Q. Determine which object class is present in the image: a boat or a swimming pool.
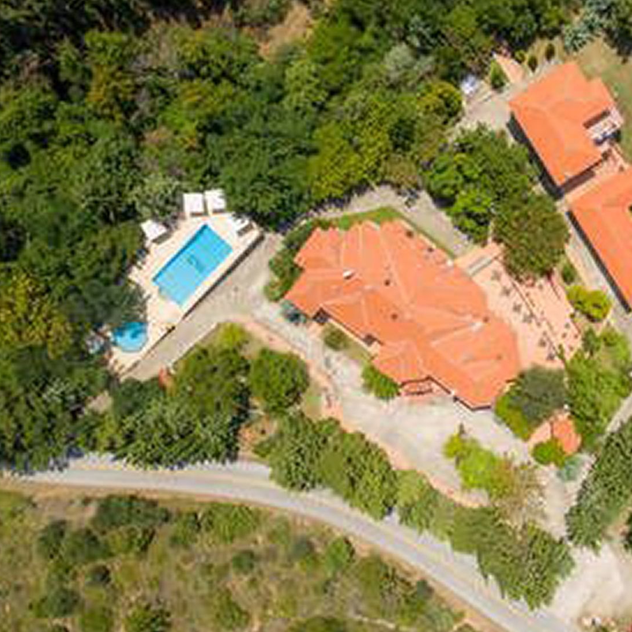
swimming pool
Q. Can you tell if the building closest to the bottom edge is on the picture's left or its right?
right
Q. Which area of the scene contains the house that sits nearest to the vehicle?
top right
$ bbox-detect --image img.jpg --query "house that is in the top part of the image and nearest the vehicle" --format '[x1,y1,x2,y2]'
[508,64,613,185]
